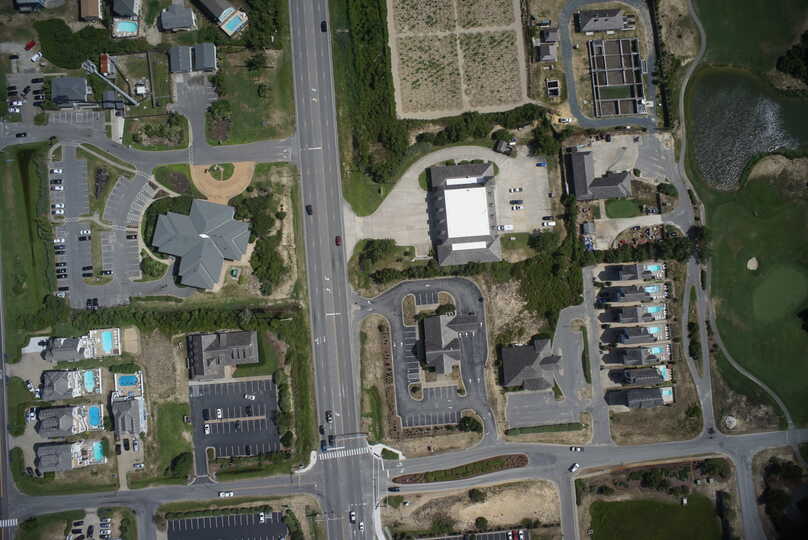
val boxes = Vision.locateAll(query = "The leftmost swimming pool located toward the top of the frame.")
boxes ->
[113,18,139,38]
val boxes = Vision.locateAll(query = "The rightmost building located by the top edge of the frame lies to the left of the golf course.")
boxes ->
[578,9,637,35]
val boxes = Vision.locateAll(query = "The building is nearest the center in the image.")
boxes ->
[432,163,502,265]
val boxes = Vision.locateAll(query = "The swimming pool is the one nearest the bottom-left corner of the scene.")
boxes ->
[81,441,107,467]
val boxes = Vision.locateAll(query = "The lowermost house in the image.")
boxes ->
[36,437,88,471]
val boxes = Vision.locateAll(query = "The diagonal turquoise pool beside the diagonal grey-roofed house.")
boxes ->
[224,9,248,36]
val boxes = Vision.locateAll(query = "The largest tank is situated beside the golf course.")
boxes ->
[587,38,649,119]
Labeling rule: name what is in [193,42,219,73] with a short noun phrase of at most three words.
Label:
building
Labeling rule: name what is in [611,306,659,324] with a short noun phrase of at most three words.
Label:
house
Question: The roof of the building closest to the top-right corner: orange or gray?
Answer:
gray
